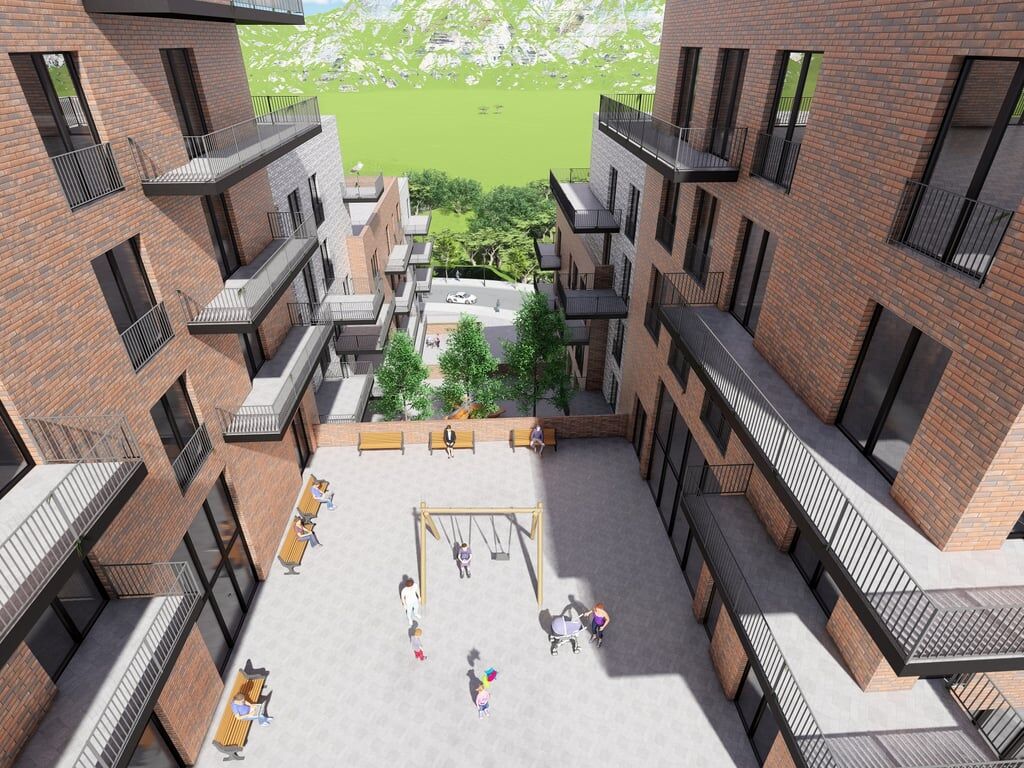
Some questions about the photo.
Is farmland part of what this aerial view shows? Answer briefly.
No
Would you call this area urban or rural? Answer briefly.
urban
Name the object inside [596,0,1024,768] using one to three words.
building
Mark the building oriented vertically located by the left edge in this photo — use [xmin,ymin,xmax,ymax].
[0,0,337,768]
